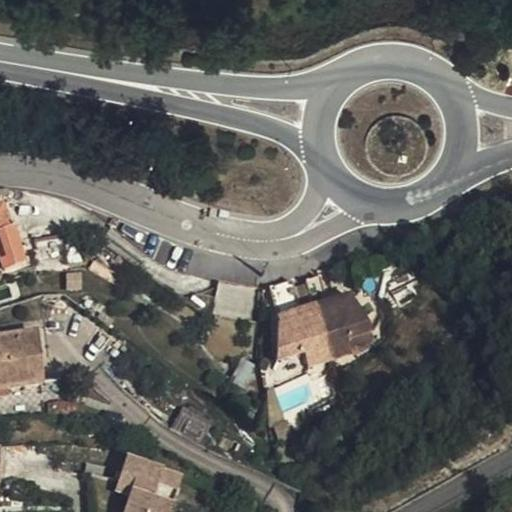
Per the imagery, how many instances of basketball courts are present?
0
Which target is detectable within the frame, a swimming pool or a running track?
swimming pool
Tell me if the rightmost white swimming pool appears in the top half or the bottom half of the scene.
bottom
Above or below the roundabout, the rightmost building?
below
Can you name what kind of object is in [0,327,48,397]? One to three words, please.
house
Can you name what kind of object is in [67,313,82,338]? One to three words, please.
car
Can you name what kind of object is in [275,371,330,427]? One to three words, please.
swimming pool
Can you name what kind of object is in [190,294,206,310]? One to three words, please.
vehicle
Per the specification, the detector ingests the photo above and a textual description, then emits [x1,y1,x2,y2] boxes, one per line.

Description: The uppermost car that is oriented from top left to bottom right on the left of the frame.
[120,224,144,242]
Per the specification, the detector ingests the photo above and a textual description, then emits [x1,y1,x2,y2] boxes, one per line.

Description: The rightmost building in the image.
[379,266,418,308]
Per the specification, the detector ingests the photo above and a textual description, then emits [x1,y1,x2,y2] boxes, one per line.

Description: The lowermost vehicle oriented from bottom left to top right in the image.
[84,334,106,360]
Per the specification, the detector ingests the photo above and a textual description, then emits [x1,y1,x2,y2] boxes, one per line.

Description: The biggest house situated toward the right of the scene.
[278,292,375,368]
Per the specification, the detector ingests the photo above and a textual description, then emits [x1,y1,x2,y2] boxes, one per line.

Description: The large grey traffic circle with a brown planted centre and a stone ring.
[297,40,510,226]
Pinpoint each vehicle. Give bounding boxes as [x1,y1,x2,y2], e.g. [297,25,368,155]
[84,334,106,360]
[67,313,82,338]
[120,224,144,242]
[18,205,40,216]
[146,233,158,255]
[167,246,182,270]
[190,294,206,310]
[44,320,60,330]
[178,248,194,270]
